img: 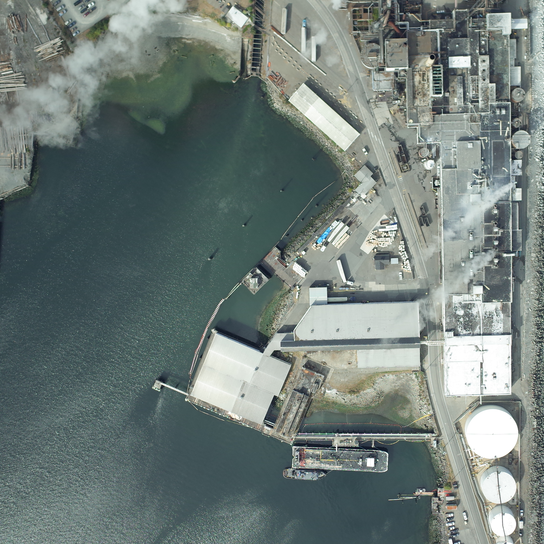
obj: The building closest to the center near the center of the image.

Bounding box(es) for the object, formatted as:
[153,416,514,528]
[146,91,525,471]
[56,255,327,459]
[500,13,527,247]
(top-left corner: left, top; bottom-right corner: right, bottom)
[241,267,271,294]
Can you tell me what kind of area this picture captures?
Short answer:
port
